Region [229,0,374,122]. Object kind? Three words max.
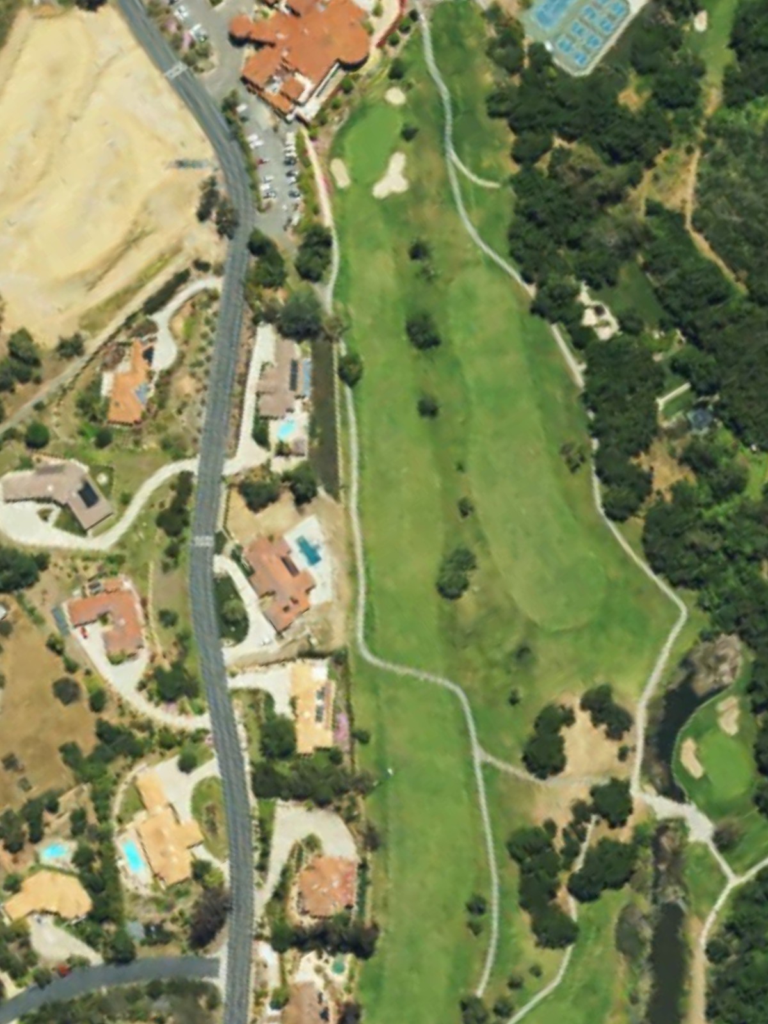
building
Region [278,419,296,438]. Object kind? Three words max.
swimming pool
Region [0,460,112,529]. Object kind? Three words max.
house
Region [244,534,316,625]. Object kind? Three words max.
house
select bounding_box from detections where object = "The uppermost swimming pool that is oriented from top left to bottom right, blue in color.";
[296,536,321,565]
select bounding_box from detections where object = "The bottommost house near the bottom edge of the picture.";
[288,983,331,1024]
